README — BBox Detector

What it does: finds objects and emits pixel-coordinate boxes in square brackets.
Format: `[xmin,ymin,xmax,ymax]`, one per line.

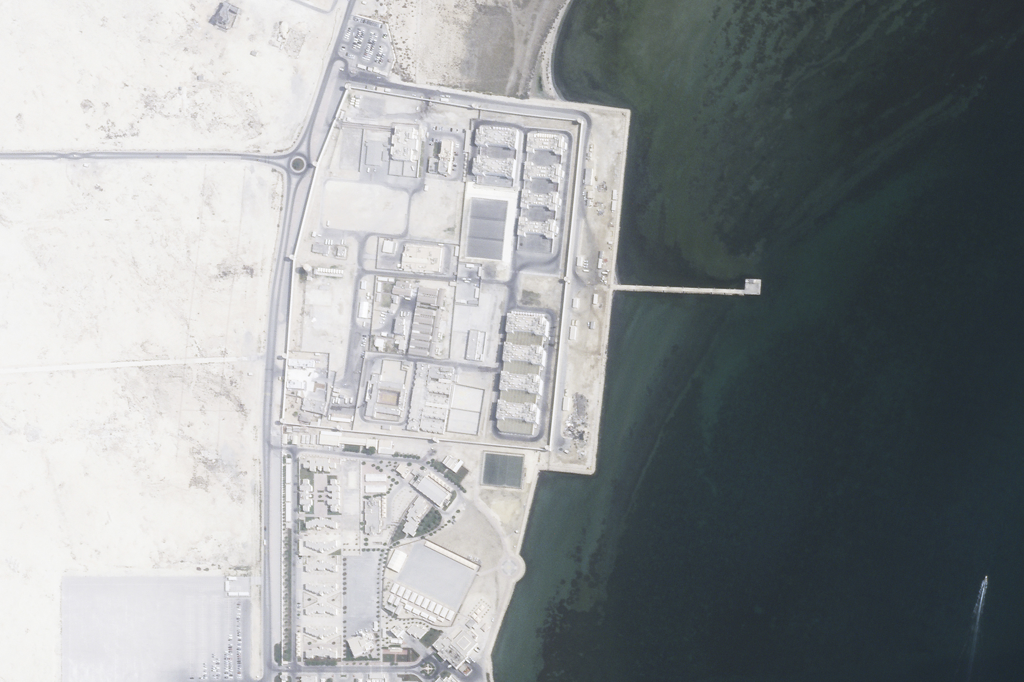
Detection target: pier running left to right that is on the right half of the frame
[612,279,761,296]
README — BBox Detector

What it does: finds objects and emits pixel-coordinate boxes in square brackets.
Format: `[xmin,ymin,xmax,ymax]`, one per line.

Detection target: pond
[479,450,527,492]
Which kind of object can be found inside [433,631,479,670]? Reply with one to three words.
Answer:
house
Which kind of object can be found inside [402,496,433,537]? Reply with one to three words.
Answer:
building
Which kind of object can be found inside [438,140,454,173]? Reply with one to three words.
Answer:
building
